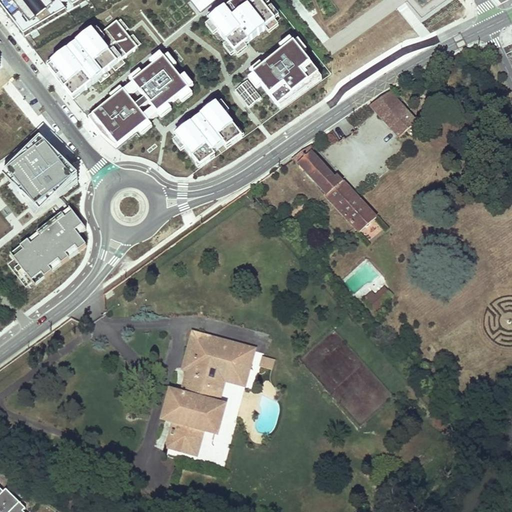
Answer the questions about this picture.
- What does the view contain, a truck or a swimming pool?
swimming pool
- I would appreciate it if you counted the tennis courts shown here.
1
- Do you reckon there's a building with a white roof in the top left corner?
Yes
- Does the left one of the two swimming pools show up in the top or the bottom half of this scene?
bottom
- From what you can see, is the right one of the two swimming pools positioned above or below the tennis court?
above it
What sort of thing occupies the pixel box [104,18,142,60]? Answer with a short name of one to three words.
house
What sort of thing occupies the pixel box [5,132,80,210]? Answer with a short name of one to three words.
building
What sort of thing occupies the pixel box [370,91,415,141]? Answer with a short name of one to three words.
barn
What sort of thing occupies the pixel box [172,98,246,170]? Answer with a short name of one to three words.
house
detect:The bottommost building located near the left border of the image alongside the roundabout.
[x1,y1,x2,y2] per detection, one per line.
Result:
[8,207,87,288]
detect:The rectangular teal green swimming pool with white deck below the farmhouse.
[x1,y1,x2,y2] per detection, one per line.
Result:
[344,258,386,300]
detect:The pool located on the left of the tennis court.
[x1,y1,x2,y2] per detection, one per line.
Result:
[239,380,282,444]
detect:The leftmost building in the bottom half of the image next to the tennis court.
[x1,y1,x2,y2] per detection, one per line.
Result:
[160,329,264,467]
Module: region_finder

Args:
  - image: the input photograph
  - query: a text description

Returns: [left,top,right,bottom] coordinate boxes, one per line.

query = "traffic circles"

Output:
[92,168,180,246]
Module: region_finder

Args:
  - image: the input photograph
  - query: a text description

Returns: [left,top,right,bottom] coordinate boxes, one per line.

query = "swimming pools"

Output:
[344,258,386,300]
[239,380,282,444]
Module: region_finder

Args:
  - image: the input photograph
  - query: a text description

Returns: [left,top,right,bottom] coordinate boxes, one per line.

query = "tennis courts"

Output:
[302,330,391,424]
